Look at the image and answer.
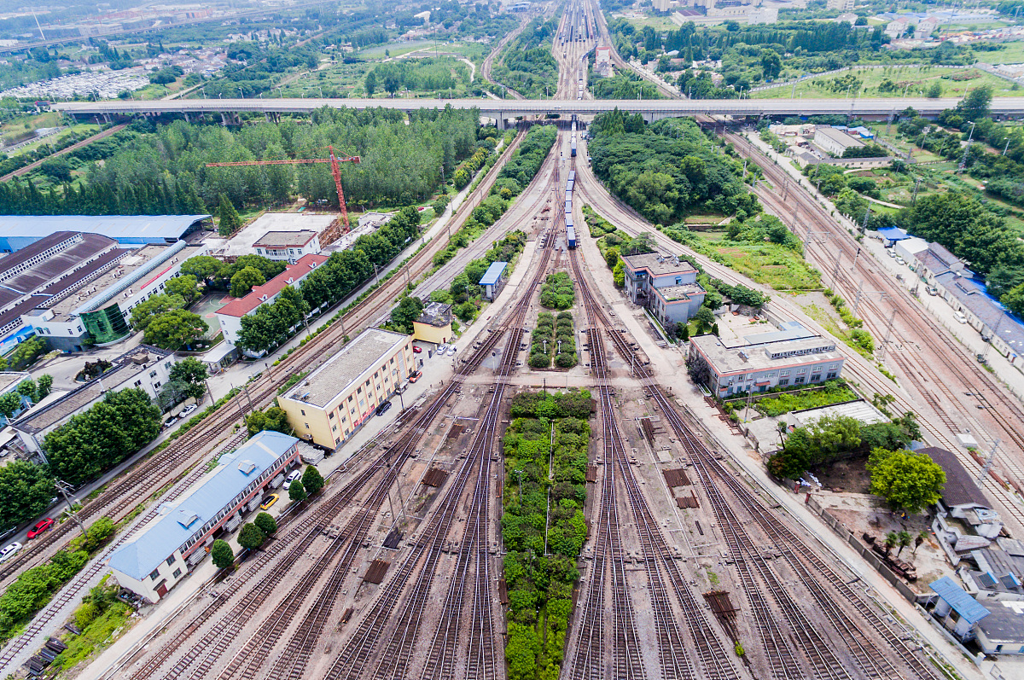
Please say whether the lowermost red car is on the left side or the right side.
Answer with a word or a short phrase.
left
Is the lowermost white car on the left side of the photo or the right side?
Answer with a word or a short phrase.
left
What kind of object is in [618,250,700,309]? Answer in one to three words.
building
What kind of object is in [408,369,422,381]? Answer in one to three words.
vehicle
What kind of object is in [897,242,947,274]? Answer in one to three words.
house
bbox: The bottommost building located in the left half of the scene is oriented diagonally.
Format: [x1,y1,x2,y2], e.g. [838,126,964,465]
[111,433,301,605]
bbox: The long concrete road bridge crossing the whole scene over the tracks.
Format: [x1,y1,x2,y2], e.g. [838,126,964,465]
[51,96,1024,126]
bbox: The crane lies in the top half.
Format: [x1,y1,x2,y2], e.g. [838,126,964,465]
[207,147,363,231]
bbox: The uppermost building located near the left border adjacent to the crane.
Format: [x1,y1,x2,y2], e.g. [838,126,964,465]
[0,207,197,253]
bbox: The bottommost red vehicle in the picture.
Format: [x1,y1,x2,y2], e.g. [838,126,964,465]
[22,517,54,540]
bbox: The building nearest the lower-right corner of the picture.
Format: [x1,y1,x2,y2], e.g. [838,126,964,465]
[970,597,1024,658]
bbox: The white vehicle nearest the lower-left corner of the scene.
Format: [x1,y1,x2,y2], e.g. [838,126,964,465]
[0,538,24,561]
